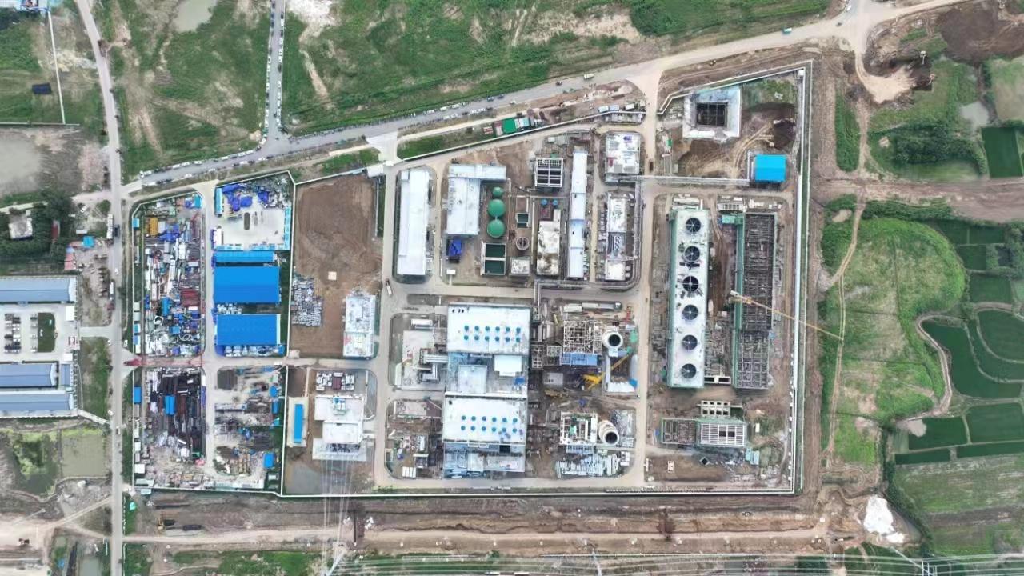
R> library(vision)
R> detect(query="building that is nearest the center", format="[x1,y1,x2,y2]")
[511,258,530,274]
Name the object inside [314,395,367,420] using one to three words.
building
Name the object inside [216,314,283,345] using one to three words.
shed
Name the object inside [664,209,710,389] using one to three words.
cooling tower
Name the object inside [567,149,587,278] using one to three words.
building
